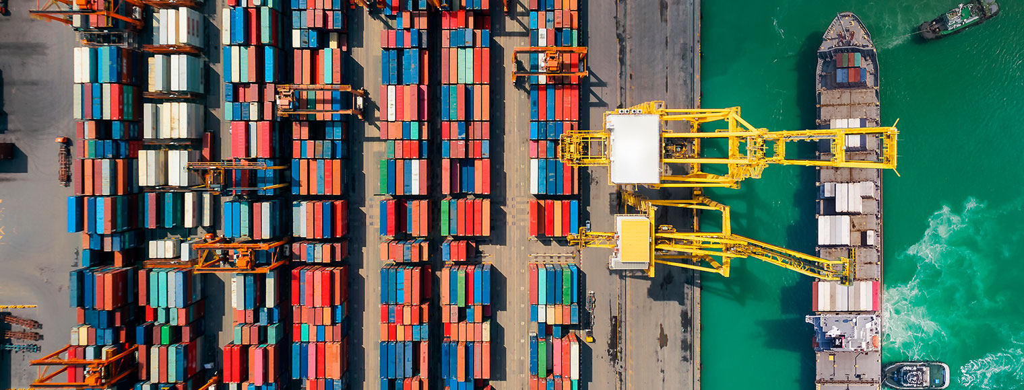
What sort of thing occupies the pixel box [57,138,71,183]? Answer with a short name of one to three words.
vehicle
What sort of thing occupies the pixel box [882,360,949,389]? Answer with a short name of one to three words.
boat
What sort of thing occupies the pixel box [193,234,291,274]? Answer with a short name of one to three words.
container crane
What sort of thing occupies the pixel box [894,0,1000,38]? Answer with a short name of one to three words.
boat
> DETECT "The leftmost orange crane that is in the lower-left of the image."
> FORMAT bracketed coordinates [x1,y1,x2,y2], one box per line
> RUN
[28,341,115,390]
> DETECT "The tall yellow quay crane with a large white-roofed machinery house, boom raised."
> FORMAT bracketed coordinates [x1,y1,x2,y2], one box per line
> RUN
[558,97,900,191]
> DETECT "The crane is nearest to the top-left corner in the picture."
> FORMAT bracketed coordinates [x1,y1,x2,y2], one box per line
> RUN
[28,0,140,27]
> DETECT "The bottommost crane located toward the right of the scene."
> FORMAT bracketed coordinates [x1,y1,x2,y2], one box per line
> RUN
[567,186,850,293]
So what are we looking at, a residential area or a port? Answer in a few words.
port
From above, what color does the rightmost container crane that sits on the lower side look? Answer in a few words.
yellow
